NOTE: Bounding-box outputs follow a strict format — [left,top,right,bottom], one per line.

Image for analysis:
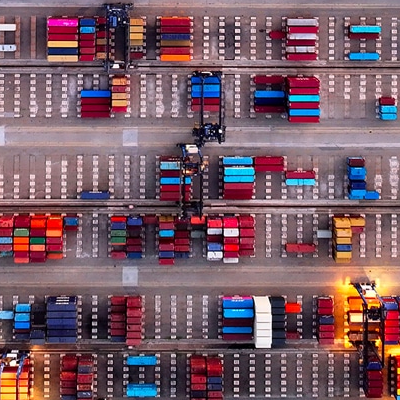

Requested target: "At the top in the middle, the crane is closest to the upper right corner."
[188,65,226,143]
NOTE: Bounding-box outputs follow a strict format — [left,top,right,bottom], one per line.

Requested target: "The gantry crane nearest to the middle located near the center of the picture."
[171,140,209,220]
